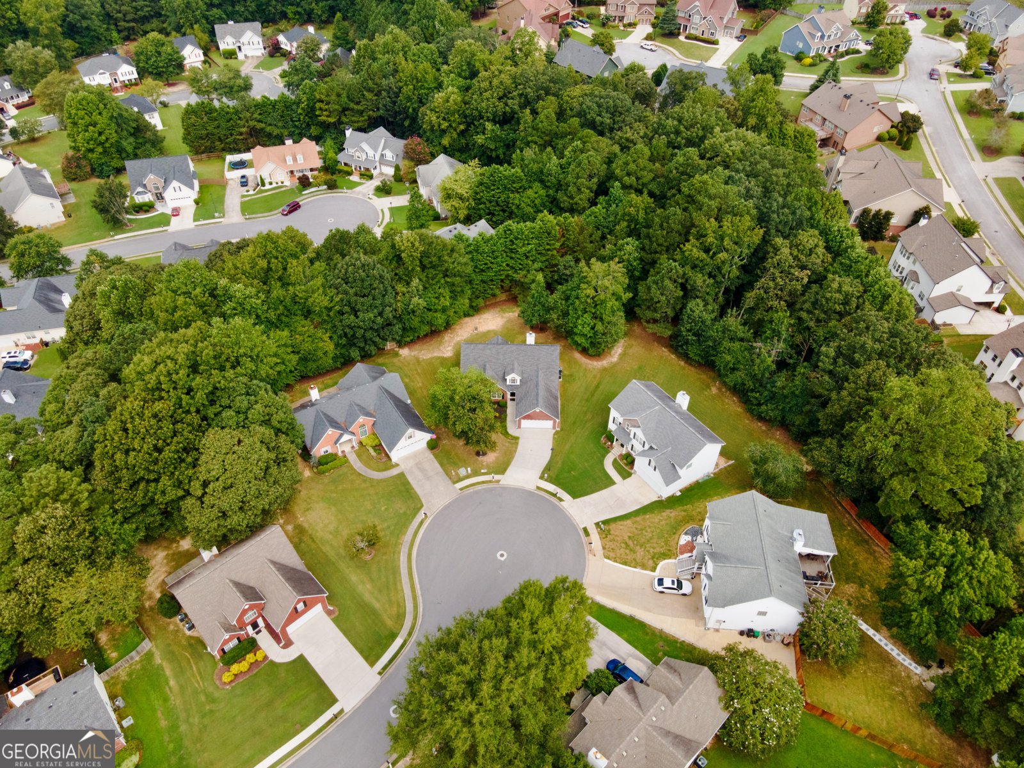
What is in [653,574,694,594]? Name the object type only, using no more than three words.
car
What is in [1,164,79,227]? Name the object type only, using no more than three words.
house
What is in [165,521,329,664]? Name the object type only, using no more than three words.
house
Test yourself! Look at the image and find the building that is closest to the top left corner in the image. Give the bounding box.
[0,72,38,115]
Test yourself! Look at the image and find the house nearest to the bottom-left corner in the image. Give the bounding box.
[0,647,128,768]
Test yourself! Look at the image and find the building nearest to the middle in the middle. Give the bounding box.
[459,324,560,432]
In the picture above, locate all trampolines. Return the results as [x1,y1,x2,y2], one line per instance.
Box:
[0,651,45,693]
[228,158,249,169]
